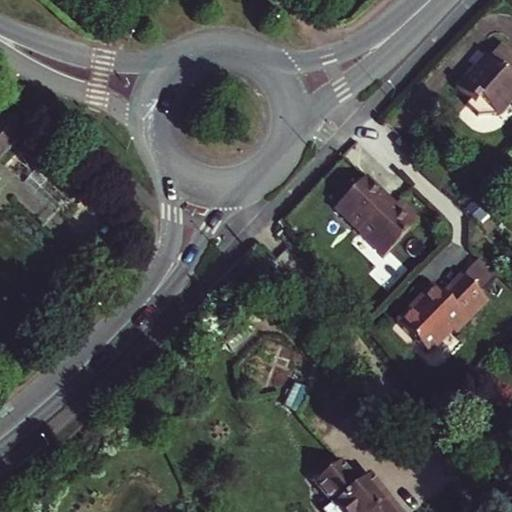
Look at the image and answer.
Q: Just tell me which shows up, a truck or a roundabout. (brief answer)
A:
roundabout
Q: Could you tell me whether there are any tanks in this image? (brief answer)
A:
No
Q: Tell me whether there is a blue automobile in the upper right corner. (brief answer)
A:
No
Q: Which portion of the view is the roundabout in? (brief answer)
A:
top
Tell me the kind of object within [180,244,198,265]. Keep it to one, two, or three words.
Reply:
car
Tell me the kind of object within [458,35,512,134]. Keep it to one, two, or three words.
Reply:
house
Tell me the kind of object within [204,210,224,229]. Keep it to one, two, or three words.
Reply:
car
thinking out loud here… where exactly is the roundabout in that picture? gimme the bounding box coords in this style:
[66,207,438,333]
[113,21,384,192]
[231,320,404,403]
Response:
[116,26,322,233]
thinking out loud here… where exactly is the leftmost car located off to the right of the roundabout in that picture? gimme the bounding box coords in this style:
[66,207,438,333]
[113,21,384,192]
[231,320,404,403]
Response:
[356,126,378,139]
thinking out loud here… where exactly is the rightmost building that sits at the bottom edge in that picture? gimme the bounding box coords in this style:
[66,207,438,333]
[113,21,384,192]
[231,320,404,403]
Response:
[318,460,404,512]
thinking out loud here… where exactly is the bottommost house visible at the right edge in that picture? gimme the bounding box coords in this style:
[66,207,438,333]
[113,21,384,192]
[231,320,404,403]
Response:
[404,248,492,348]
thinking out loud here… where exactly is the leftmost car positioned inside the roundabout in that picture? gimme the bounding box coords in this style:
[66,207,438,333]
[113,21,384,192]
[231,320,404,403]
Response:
[164,178,178,202]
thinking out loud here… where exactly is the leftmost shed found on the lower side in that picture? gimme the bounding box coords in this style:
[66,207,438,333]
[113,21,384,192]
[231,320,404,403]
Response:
[284,382,304,410]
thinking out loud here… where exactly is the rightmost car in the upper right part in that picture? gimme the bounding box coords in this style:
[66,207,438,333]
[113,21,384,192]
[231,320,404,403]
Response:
[390,129,406,150]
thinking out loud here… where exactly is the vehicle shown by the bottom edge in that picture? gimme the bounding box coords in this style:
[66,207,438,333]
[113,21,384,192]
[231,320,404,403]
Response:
[398,488,417,508]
